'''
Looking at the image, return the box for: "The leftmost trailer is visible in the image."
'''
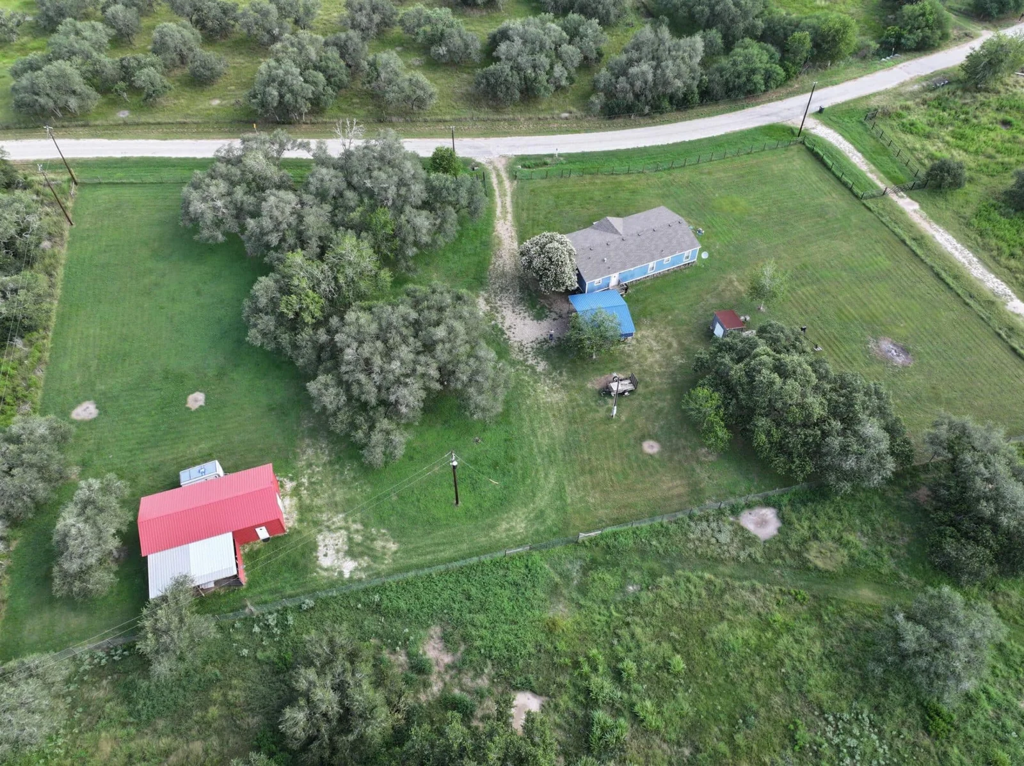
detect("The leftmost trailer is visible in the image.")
[181,462,233,488]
